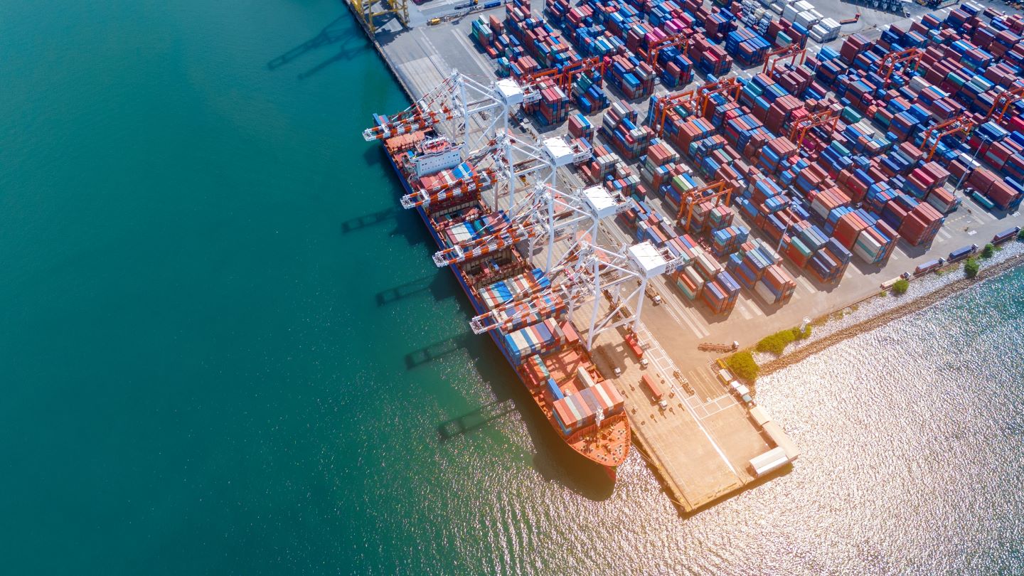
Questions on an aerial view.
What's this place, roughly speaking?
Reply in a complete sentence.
What you see here is a port.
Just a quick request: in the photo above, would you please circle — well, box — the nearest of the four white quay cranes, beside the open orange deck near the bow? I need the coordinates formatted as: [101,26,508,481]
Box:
[467,237,682,356]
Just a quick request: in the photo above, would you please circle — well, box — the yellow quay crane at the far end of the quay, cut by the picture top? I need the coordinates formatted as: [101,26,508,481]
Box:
[358,0,407,34]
